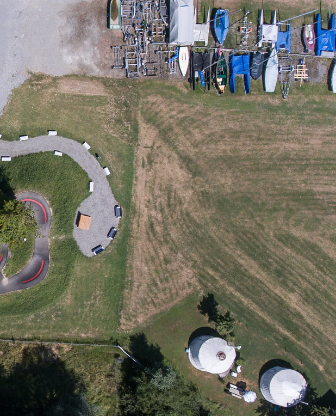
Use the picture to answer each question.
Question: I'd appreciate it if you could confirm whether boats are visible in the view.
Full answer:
Yes, the frame does contain a boat.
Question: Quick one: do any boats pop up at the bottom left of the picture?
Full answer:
No, no boat is visible at the bottom left of the picture.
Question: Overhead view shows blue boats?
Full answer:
Yes, looking at the shot, I can spot a blue boat.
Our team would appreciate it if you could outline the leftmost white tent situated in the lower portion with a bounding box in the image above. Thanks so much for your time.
[188,334,241,376]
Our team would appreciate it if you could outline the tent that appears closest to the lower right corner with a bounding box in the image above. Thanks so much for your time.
[260,365,312,408]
